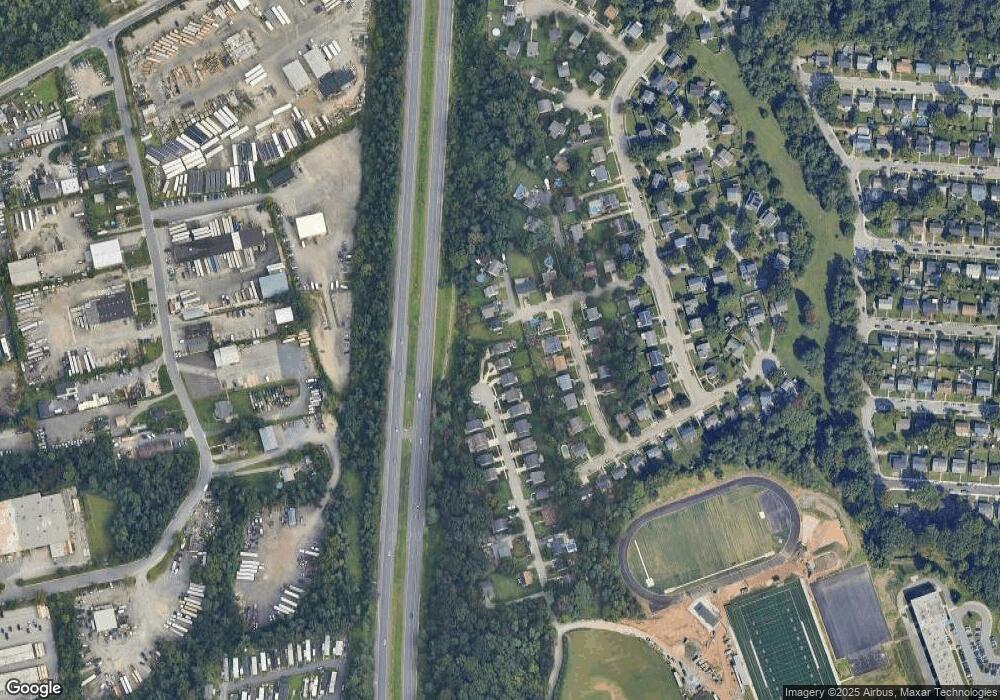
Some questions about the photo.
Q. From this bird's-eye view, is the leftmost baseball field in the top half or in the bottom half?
bottom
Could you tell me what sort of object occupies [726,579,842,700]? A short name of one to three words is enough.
sports field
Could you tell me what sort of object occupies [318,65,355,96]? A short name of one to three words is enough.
building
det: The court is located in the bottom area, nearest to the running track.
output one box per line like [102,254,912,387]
[811,565,892,658]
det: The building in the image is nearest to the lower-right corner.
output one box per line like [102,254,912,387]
[912,591,979,700]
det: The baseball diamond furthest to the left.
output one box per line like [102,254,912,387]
[562,630,674,700]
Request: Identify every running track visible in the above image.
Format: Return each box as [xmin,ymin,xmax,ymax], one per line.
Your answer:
[613,474,802,612]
